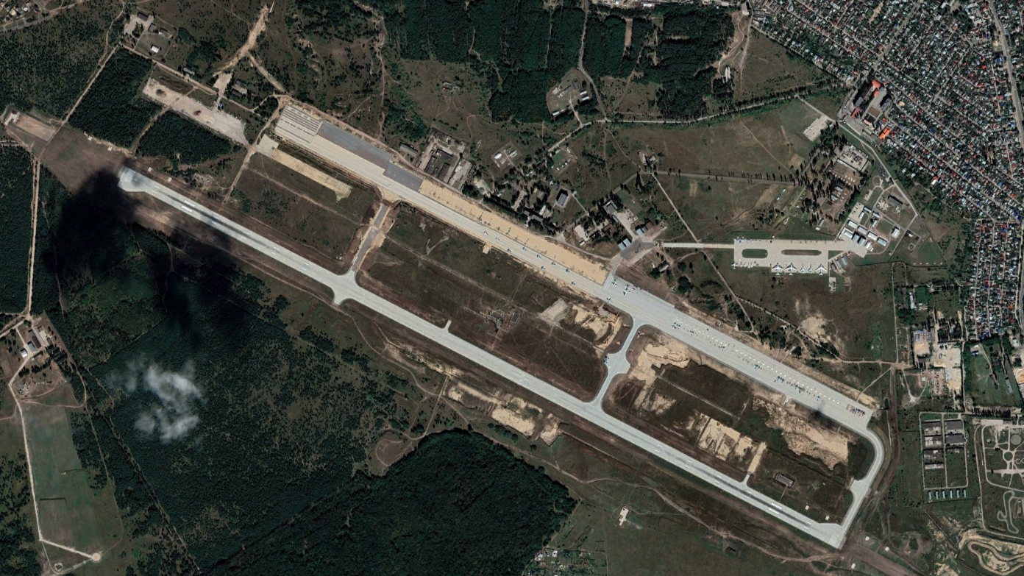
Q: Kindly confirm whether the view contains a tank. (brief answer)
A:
No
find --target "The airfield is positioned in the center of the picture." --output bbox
[115,78,884,553]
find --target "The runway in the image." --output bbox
[115,165,853,553]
